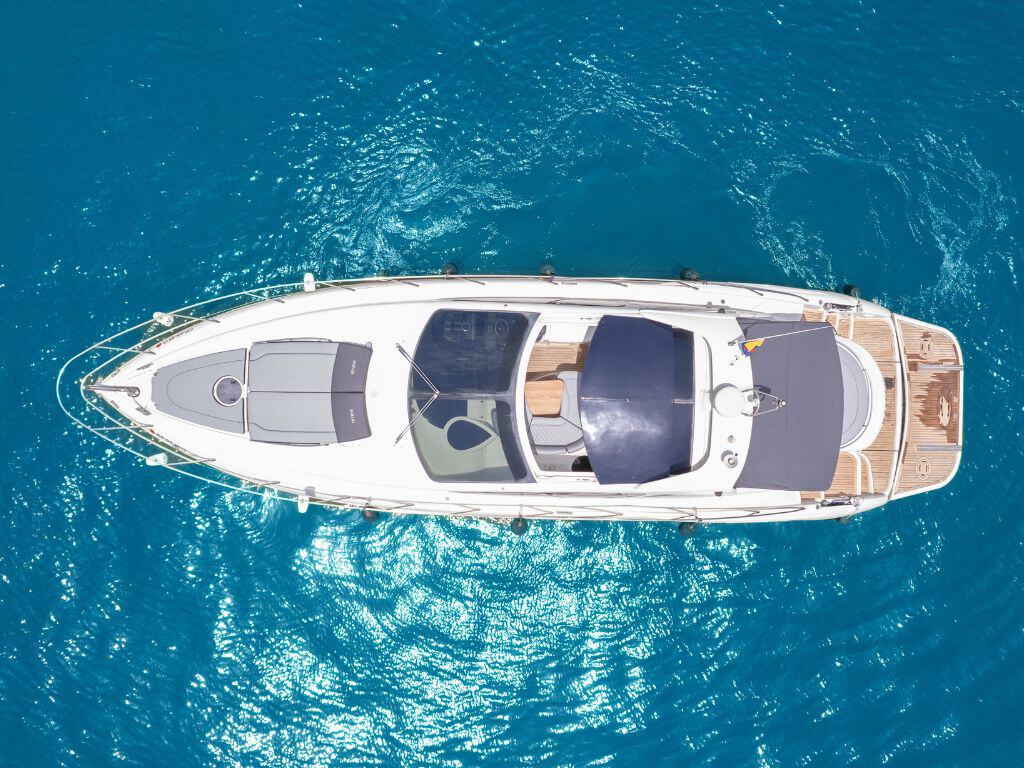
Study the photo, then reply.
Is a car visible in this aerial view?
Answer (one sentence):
No, the picture doesn't show any car.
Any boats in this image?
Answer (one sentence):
Yes, this view includes a boat.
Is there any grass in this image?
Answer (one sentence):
No, there is no grass in the image.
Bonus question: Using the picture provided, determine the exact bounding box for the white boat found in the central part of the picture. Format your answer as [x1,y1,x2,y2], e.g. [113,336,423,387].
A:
[56,274,965,522]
